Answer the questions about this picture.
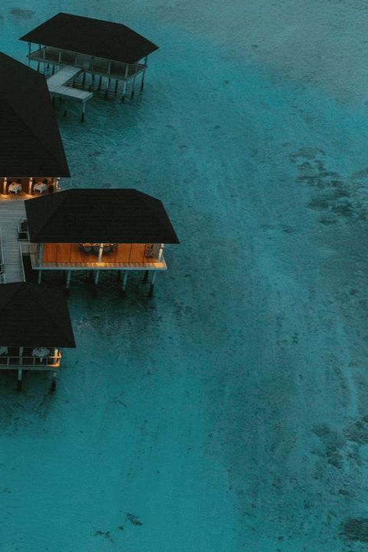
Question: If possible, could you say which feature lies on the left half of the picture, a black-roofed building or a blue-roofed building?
black-roofed building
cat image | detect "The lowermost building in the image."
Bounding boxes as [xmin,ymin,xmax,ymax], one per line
[0,280,76,404]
